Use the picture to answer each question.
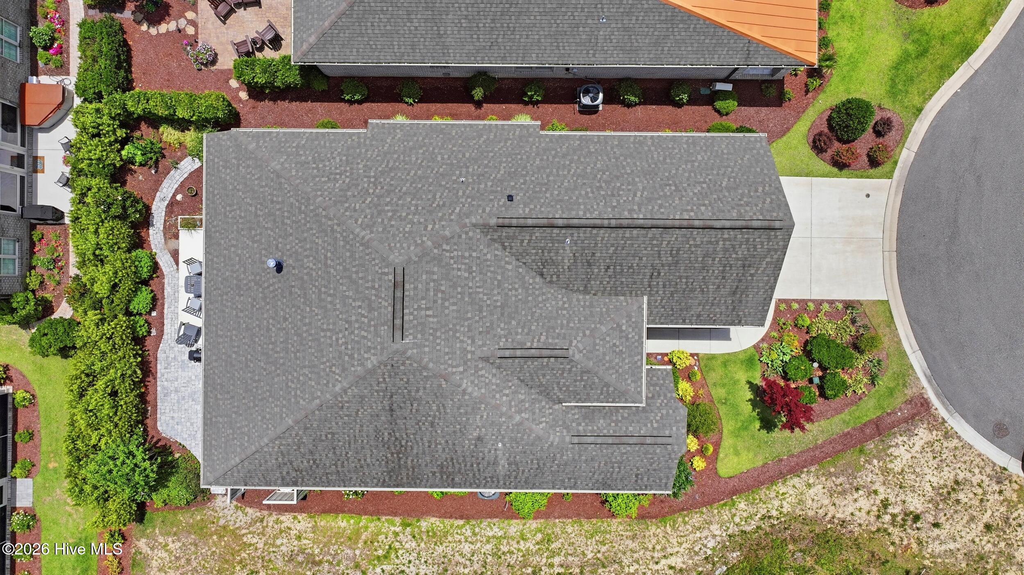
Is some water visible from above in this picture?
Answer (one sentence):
No, no water is visible.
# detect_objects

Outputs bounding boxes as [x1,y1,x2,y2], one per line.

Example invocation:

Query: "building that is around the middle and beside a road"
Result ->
[200,119,792,494]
